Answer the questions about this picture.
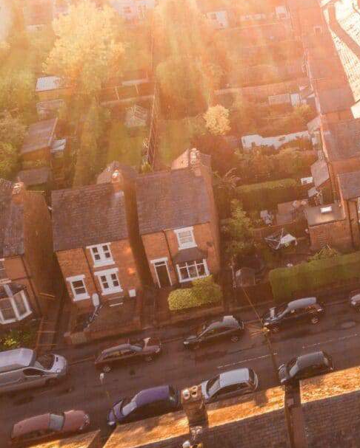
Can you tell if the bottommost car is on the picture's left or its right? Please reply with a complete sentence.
You can find the bottommost car on the left side of the picture.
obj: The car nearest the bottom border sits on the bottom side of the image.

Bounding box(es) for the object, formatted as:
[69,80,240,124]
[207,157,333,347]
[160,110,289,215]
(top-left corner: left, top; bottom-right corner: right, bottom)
[9,418,79,448]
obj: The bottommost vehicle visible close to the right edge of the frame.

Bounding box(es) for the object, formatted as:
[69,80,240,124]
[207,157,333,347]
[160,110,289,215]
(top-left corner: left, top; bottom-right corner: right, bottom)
[283,351,344,390]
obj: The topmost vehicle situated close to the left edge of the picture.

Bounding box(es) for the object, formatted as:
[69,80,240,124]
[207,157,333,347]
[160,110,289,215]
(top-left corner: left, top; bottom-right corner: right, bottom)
[0,346,63,392]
